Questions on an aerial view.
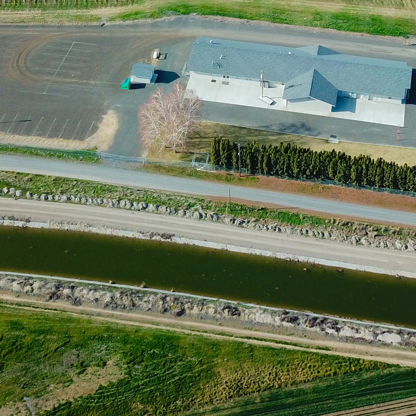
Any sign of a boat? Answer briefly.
No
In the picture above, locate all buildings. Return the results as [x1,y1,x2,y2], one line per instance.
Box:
[129,61,161,87]
[188,37,416,114]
